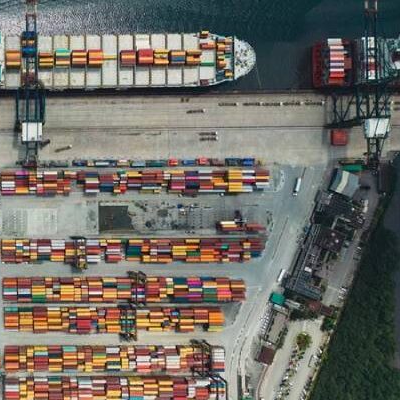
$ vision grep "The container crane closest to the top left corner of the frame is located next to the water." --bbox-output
[12,0,45,166]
